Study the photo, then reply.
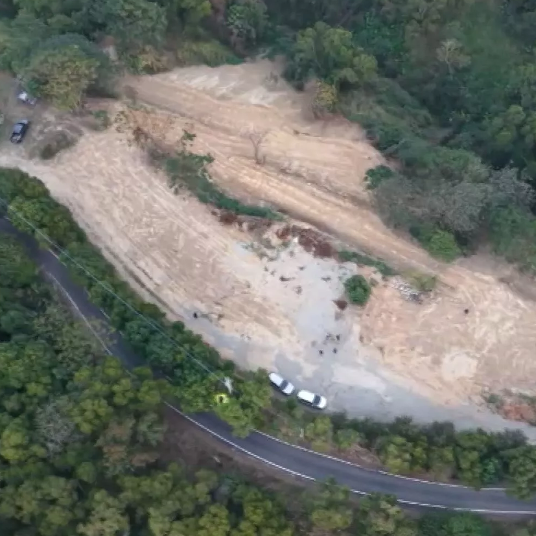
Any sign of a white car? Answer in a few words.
Yes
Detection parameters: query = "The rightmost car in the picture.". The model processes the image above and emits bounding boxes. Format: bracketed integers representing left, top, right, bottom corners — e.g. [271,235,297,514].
[295,389,328,411]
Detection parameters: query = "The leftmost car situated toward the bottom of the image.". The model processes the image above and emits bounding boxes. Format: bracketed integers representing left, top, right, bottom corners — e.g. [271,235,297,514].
[266,372,296,399]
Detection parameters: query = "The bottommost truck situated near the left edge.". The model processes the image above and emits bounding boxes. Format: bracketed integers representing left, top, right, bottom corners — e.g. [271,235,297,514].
[7,121,30,145]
